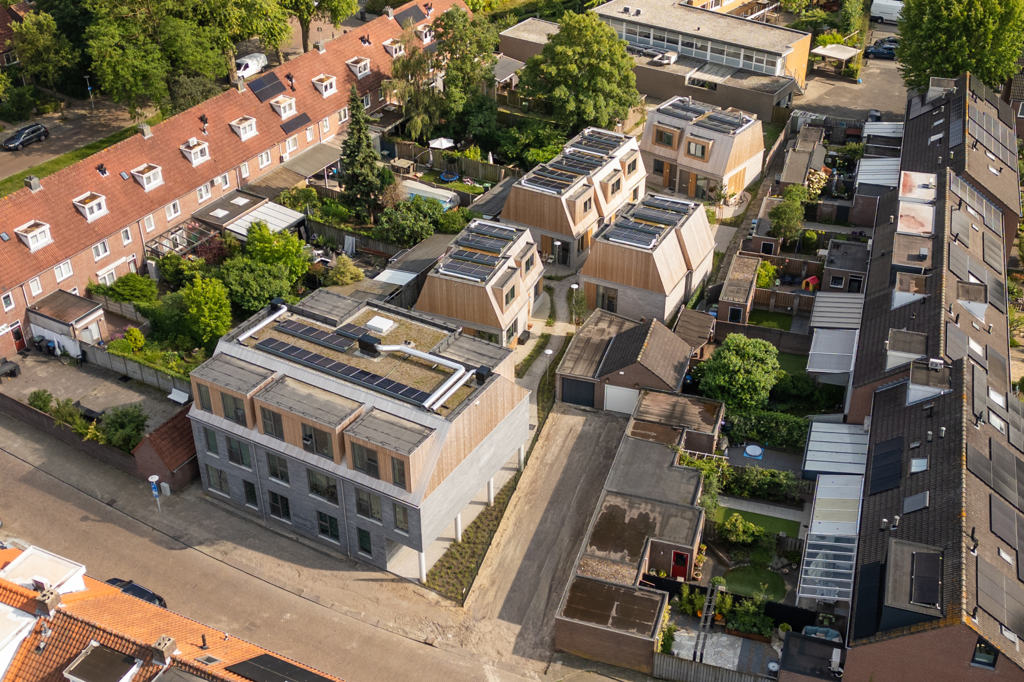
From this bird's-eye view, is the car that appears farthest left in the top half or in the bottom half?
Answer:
top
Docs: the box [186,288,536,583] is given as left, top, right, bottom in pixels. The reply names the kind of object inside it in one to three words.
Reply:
building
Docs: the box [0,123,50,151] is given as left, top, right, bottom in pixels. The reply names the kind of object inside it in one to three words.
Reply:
car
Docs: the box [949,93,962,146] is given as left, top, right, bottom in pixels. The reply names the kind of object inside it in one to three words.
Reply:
solar array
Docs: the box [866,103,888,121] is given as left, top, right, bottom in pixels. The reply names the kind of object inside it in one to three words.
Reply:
car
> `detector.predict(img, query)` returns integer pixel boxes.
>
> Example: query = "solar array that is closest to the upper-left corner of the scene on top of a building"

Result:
[248,71,288,100]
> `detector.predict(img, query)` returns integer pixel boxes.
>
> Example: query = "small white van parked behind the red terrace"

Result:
[233,50,269,78]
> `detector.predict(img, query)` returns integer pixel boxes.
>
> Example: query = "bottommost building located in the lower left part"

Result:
[0,538,355,682]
